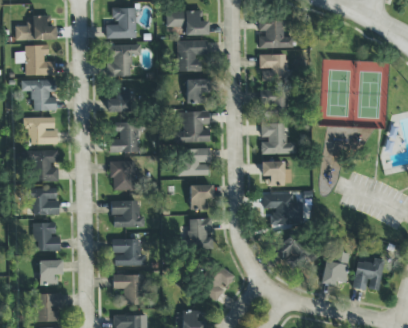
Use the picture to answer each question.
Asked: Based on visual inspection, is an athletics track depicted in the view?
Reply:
No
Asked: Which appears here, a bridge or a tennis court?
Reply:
tennis court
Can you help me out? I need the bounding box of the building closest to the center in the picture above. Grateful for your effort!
[180,147,212,176]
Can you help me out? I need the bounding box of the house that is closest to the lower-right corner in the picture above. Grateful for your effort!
[354,259,386,292]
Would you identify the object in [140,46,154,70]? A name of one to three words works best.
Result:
swimming pool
